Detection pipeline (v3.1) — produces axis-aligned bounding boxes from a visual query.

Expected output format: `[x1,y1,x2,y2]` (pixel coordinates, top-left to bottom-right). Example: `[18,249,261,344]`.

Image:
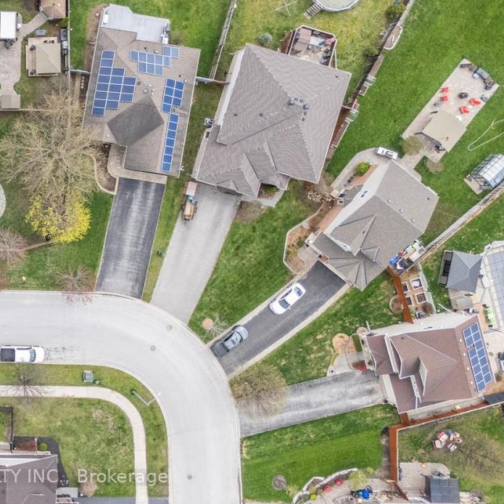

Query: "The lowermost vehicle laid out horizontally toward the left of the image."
[0,345,44,365]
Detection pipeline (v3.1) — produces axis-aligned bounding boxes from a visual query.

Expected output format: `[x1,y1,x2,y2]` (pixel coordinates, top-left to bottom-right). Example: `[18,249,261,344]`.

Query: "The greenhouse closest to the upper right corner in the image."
[465,155,504,189]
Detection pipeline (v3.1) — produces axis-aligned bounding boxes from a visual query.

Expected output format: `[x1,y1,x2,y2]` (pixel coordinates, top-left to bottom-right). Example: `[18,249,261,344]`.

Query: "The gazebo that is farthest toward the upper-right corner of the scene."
[417,110,465,153]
